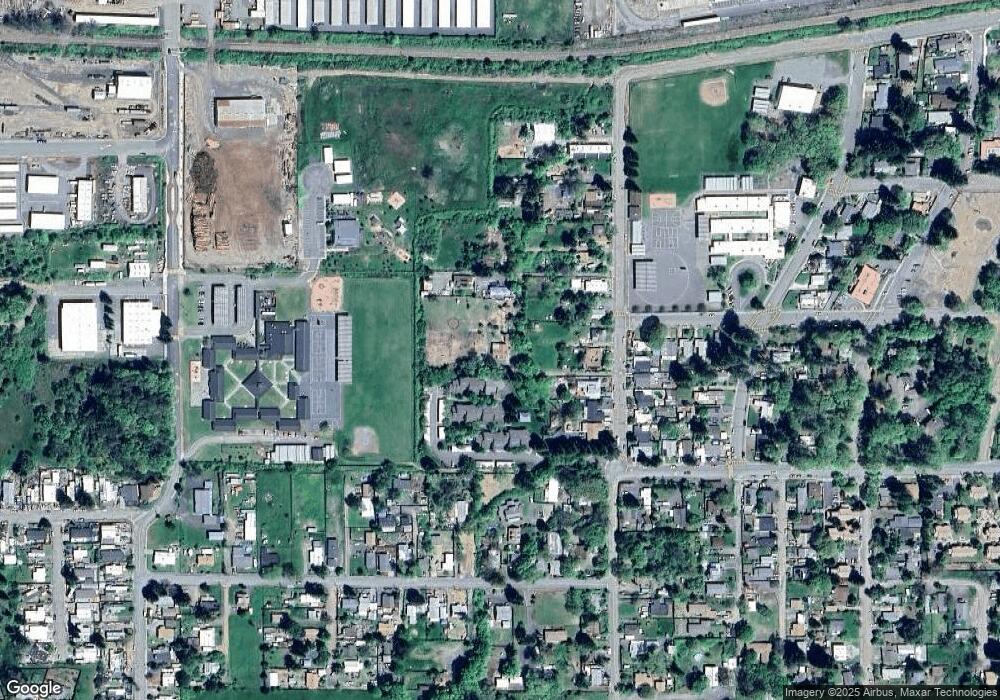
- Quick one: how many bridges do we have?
0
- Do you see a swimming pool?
No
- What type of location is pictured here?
residential area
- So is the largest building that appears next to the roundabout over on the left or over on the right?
right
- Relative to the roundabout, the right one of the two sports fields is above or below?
above it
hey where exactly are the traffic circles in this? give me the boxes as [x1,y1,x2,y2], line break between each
[730,259,772,311]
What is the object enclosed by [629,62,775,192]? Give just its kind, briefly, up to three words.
sports field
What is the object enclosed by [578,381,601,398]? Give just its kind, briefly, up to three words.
house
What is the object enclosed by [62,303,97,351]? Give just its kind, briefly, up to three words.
building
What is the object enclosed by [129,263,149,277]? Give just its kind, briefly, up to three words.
building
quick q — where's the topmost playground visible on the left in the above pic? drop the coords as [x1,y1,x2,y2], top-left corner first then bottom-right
[311,277,343,311]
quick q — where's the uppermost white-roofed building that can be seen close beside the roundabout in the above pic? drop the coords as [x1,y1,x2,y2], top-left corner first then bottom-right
[697,196,790,259]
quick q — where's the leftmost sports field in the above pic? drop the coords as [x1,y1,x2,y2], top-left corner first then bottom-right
[341,280,413,465]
